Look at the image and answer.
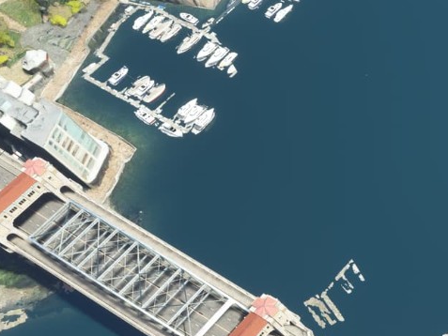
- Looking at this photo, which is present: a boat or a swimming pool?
boat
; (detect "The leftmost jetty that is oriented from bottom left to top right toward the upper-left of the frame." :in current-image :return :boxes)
[81,5,140,76]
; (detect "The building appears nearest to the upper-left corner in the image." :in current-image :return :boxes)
[22,49,55,78]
